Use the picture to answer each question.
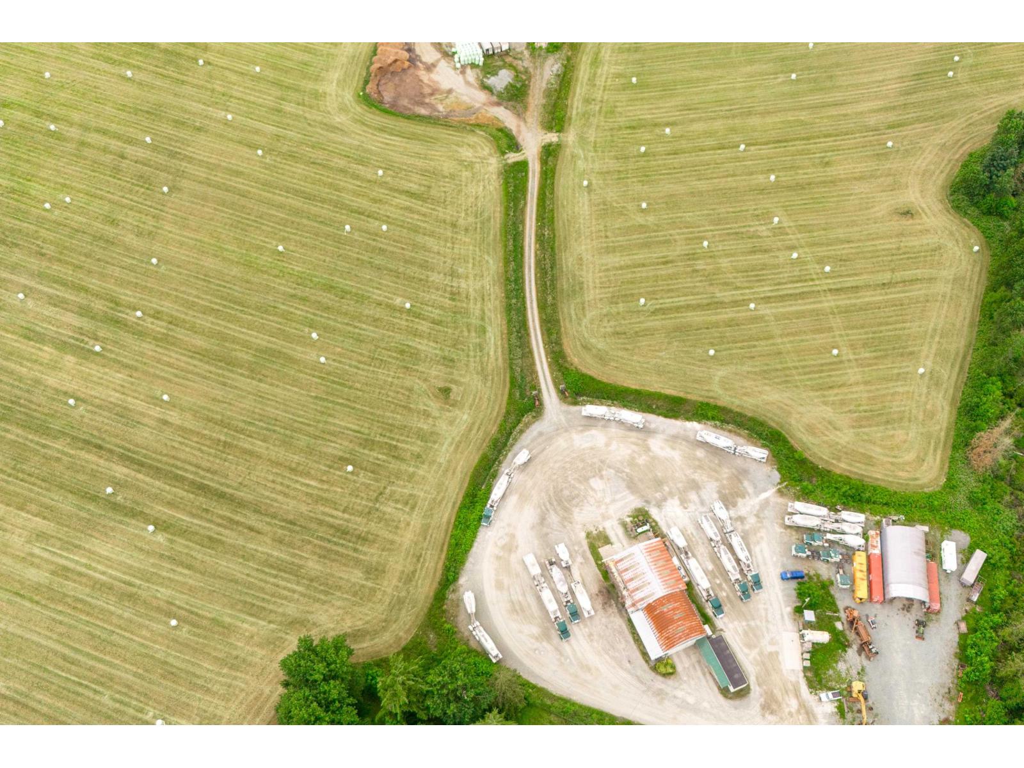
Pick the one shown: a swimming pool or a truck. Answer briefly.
truck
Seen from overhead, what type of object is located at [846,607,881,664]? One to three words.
truck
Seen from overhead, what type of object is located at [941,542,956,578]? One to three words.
camper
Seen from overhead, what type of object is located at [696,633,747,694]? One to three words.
building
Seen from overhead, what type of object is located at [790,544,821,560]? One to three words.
vehicle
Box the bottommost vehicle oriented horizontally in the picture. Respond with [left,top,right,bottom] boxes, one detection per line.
[818,690,843,703]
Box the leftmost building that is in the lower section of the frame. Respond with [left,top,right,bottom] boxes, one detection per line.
[603,537,706,666]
